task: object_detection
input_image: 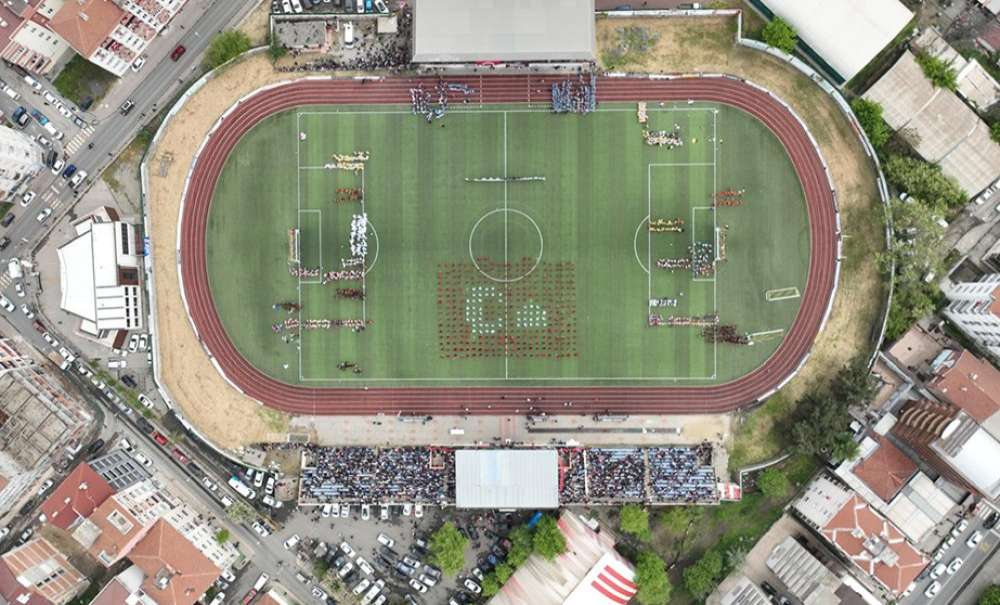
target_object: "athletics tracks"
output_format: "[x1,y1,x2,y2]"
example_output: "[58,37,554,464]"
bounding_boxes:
[179,74,839,416]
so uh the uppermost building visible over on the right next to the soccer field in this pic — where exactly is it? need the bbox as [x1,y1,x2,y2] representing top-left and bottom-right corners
[739,0,915,91]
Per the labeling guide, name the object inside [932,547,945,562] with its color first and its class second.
white vehicle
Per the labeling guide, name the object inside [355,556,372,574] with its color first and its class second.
white vehicle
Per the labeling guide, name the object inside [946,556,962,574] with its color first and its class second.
white car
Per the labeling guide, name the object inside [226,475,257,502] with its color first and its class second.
white bus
